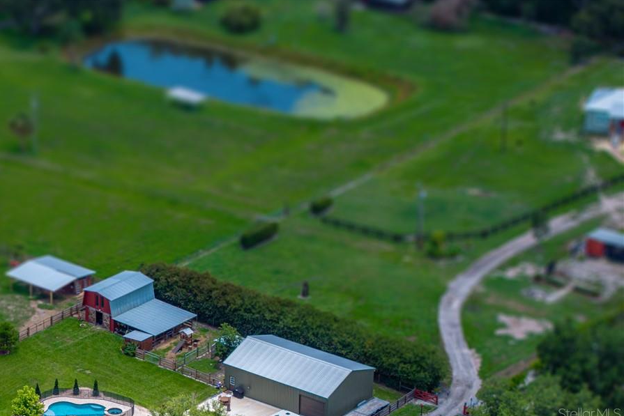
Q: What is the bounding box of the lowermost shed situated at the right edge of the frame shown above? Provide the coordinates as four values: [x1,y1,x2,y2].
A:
[587,228,624,259]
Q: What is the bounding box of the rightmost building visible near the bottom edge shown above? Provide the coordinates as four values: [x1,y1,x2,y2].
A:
[223,334,376,416]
